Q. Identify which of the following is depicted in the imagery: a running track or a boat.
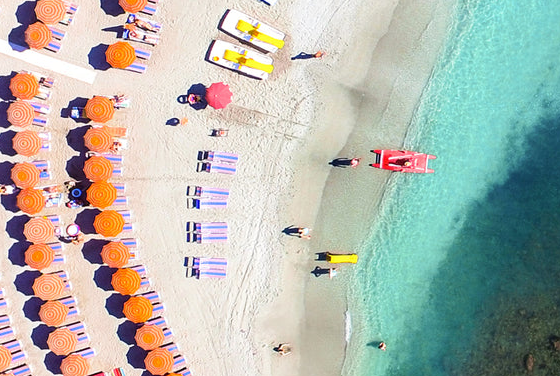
boat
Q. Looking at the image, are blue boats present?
No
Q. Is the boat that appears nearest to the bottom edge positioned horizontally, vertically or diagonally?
horizontally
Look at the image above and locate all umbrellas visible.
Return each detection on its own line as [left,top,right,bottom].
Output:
[35,0,65,26]
[111,266,140,295]
[135,322,165,352]
[38,300,68,329]
[24,214,54,243]
[85,96,114,125]
[100,239,130,270]
[59,352,89,376]
[47,327,77,358]
[22,21,53,51]
[84,155,113,183]
[18,187,47,217]
[106,39,137,68]
[9,71,39,100]
[86,181,116,210]
[6,100,36,129]
[13,160,42,189]
[123,293,152,323]
[93,209,123,238]
[26,241,55,270]
[11,129,41,158]
[83,125,112,154]
[34,274,64,303]
[118,0,147,16]
[203,81,231,109]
